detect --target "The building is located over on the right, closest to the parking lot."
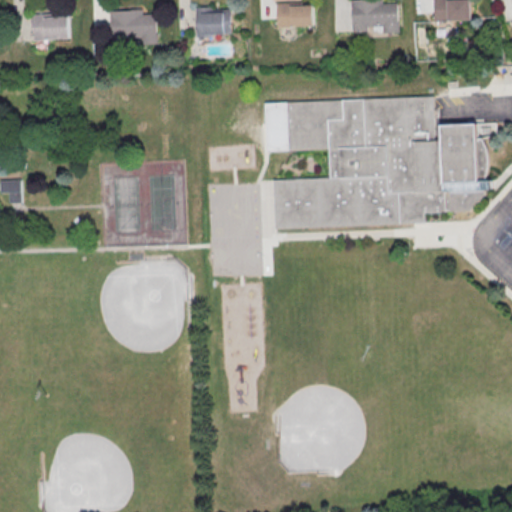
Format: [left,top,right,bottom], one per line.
[264,96,490,230]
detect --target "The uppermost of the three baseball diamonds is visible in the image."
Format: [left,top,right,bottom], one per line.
[100,258,189,354]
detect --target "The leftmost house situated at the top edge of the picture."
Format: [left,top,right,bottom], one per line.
[30,13,72,45]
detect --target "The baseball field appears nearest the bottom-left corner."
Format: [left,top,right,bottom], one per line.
[43,432,136,512]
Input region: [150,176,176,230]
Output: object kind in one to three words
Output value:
tennis court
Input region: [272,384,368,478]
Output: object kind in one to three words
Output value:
baseball field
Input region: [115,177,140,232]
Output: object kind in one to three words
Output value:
tennis court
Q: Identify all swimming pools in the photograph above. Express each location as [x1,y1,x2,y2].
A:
[206,45,232,57]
